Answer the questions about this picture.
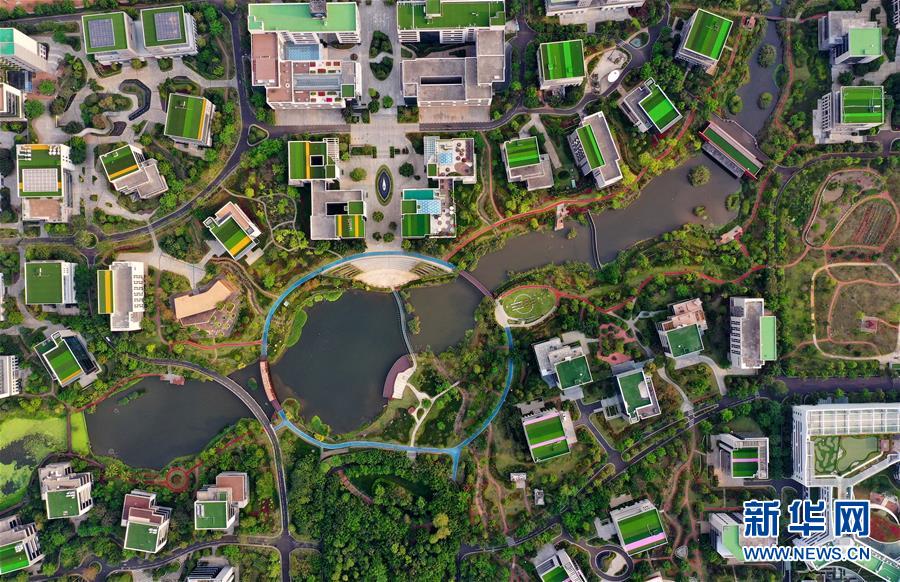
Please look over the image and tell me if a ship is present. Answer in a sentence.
No, there is no ship in the image.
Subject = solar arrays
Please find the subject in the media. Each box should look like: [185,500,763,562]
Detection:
[154,11,182,42]
[22,168,59,192]
[88,18,116,48]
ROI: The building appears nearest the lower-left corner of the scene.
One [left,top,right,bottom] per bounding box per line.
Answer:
[0,510,52,574]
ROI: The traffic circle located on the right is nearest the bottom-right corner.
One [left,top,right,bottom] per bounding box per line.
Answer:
[589,545,634,581]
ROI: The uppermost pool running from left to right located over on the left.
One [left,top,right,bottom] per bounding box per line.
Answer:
[287,47,319,60]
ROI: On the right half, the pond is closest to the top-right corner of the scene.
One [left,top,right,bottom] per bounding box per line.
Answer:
[729,0,788,156]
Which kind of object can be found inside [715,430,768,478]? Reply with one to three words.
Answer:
building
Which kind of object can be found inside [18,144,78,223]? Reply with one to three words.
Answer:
building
